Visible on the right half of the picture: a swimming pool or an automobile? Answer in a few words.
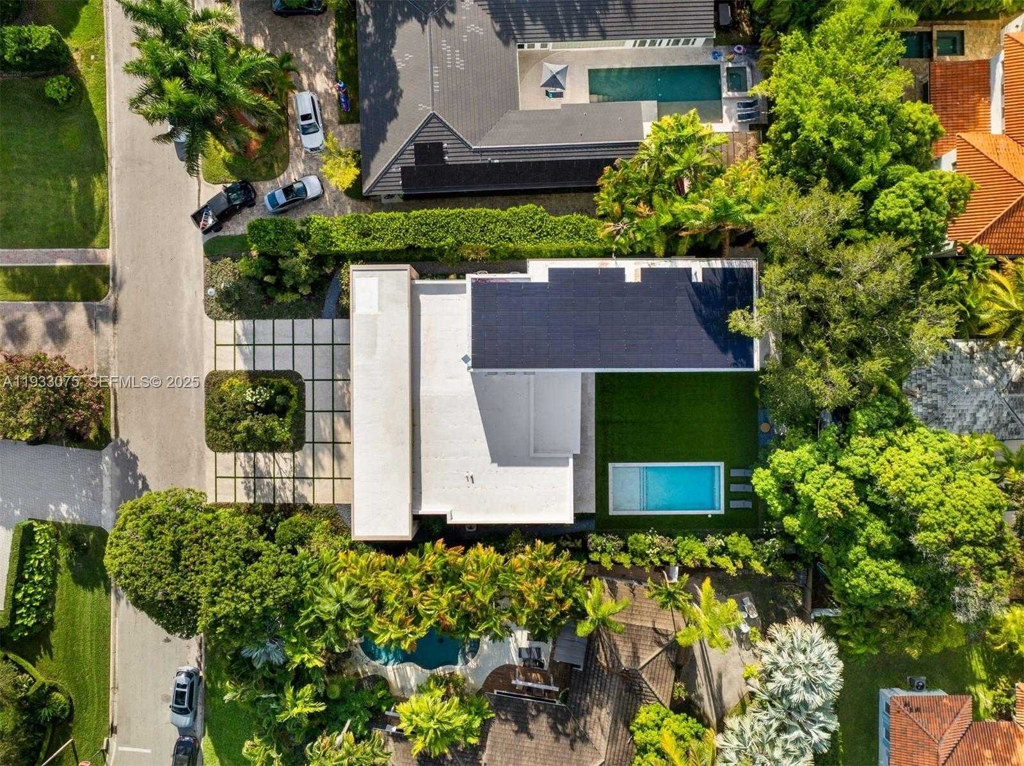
swimming pool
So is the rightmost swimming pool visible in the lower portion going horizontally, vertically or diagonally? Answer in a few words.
horizontally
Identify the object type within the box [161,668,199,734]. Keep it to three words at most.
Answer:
car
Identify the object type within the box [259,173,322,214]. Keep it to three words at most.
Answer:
car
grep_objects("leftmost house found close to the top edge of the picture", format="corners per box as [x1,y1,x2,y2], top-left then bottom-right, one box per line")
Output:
[356,0,718,198]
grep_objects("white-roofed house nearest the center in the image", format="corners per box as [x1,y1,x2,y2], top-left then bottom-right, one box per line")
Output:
[350,258,759,540]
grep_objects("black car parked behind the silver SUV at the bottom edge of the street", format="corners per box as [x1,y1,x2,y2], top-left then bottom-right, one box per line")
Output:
[167,737,199,766]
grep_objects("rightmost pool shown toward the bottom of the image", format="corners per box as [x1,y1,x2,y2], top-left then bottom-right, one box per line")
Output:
[609,462,724,515]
